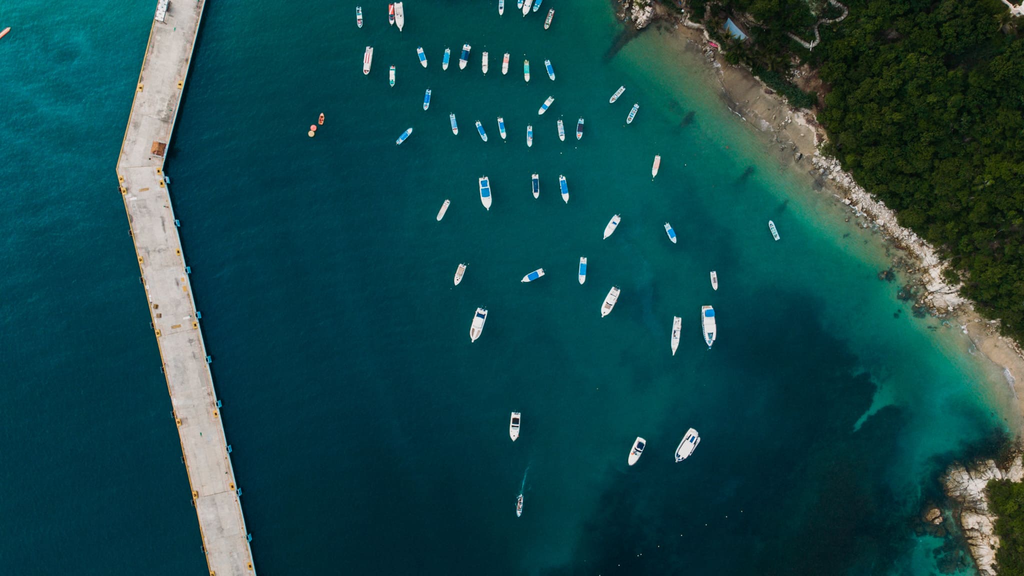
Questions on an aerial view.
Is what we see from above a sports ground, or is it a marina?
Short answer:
marina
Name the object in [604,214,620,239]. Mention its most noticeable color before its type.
white boat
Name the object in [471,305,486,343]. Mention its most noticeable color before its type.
white boat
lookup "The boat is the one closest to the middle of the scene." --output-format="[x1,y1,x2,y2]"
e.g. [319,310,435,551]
[521,268,547,282]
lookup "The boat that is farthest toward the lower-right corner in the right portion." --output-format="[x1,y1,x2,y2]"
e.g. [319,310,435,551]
[675,428,699,464]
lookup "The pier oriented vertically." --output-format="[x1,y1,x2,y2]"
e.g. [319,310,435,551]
[116,0,258,576]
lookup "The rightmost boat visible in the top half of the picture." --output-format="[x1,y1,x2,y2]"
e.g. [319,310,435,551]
[768,220,780,240]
